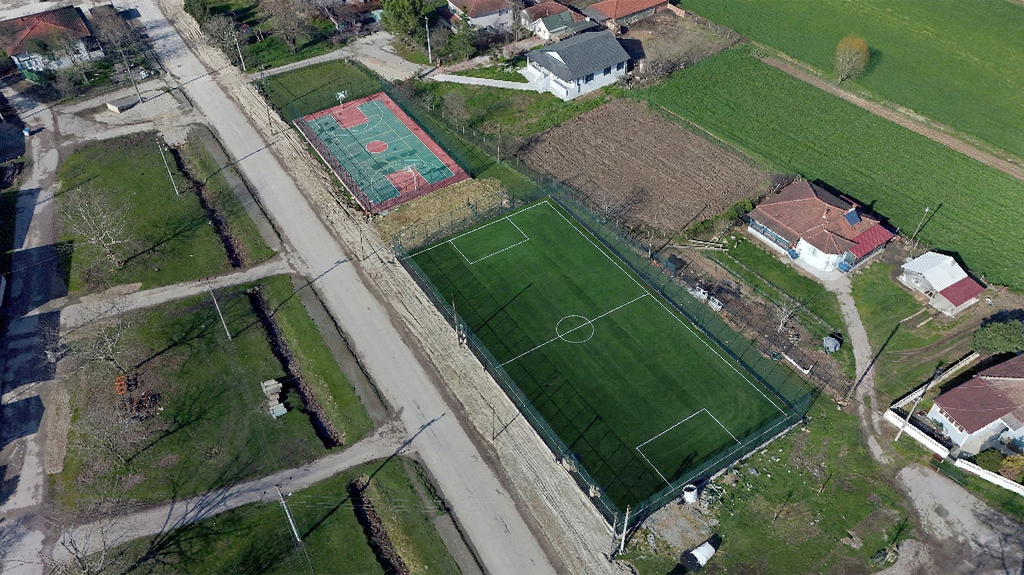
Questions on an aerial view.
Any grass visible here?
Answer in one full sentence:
Yes, grass can be seen from above here.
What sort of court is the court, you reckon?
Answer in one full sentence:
Specifically, the court is a basketball court.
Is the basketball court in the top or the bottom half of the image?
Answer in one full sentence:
It is in the top half that the basketball court appears.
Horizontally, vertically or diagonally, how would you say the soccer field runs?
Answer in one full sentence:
The soccer field is laid out diagonally.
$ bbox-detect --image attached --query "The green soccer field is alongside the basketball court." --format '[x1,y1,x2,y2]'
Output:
[397,198,799,533]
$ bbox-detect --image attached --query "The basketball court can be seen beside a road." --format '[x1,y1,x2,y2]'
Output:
[292,91,471,214]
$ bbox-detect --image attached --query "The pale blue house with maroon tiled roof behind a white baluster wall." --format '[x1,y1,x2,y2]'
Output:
[927,335,1024,460]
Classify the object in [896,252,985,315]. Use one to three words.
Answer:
shed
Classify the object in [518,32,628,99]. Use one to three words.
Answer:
house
